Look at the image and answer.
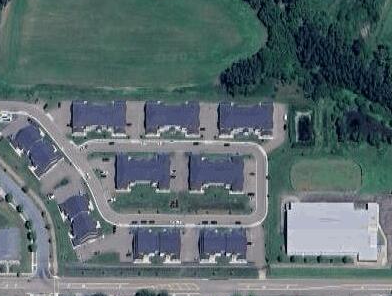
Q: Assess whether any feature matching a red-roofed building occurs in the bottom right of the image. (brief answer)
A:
No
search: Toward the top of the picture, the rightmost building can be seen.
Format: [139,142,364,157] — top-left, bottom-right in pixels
[219,100,273,136]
